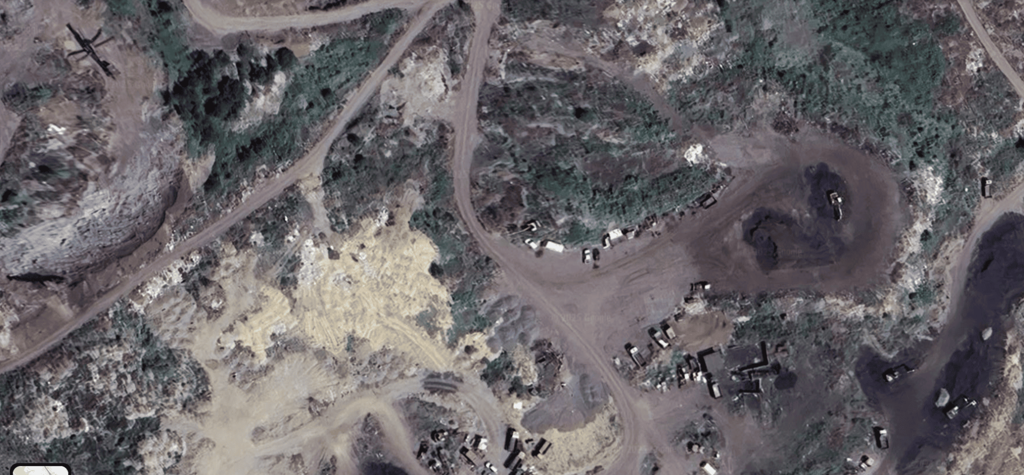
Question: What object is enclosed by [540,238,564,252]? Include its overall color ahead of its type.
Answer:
white vehicle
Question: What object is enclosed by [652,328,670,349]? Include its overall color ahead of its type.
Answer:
white vehicle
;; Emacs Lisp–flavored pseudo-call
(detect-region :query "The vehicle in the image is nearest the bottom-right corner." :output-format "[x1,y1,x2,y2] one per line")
[945,401,974,420]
